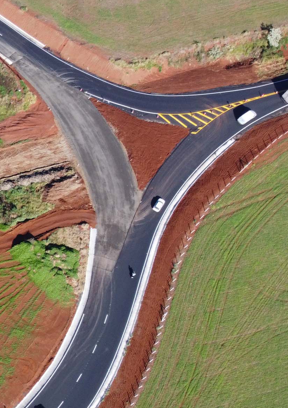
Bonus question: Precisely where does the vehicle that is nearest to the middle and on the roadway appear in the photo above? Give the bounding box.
[152,198,164,214]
